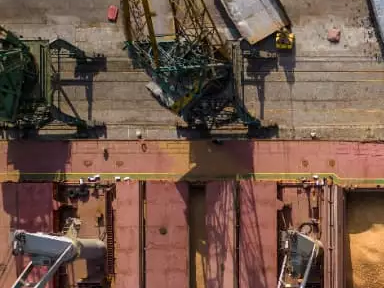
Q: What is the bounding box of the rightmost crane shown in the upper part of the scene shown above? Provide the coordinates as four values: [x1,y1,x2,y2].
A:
[122,0,280,129]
